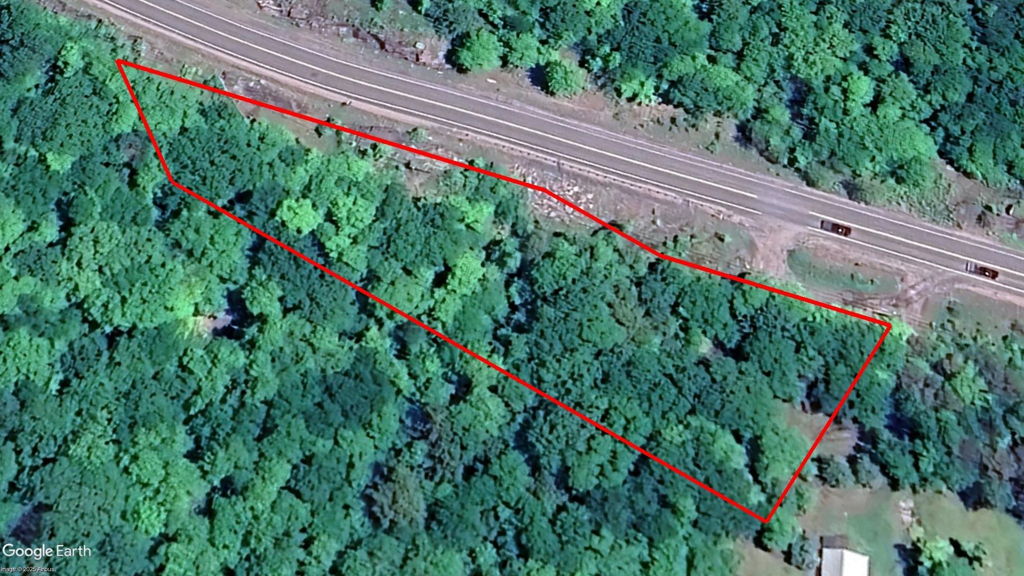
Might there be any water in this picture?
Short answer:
No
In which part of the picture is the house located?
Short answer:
bottom right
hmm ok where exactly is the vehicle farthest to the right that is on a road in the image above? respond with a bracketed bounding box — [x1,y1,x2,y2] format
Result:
[966,262,999,280]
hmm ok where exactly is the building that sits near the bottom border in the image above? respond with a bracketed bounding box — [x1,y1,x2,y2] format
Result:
[822,538,869,576]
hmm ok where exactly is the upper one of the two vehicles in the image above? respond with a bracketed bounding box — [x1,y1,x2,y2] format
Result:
[820,220,852,237]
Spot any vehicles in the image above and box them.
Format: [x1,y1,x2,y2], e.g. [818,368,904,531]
[966,262,999,280]
[820,220,852,237]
